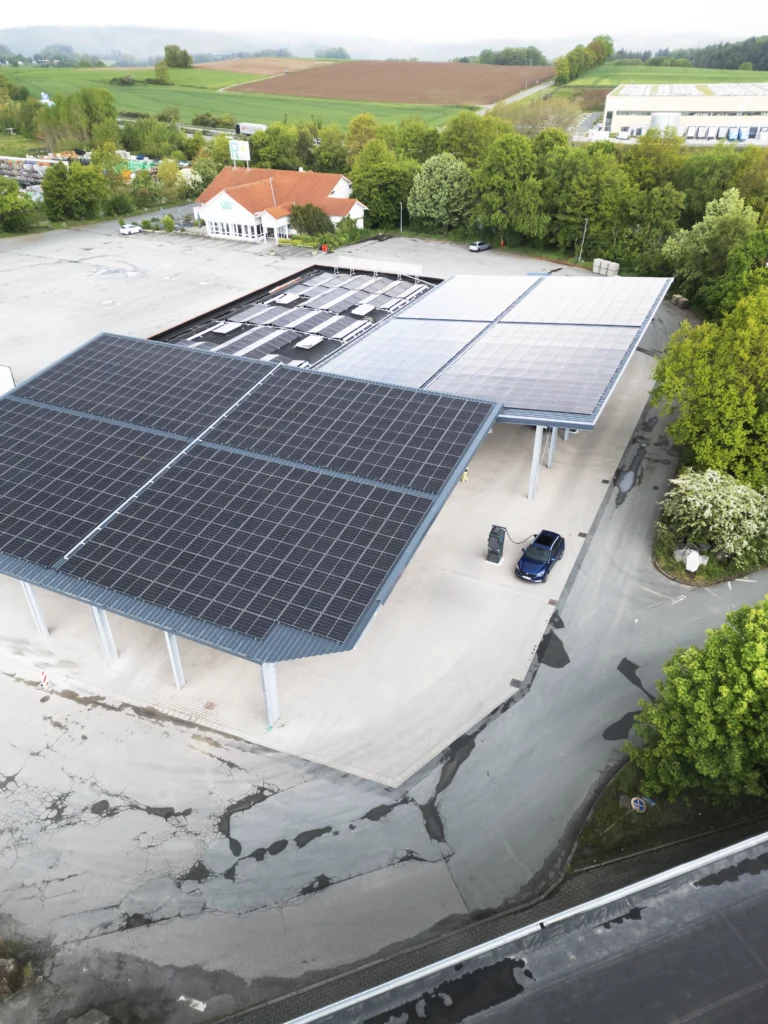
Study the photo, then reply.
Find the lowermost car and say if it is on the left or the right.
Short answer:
right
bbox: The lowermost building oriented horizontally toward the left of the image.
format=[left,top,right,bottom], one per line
[155,265,441,371]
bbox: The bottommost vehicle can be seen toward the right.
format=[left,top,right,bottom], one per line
[515,524,564,582]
